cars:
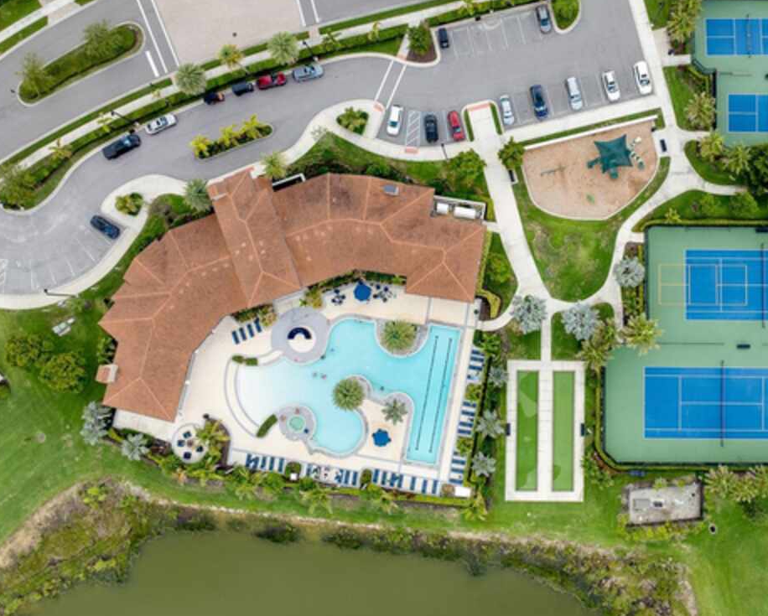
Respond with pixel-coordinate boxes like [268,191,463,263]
[437,26,448,47]
[499,94,514,125]
[256,72,285,89]
[144,114,176,134]
[567,78,583,108]
[229,79,254,95]
[447,110,463,140]
[424,112,438,142]
[201,89,226,105]
[634,60,652,92]
[536,3,552,32]
[291,63,324,80]
[531,85,548,116]
[386,105,401,134]
[88,215,118,238]
[604,70,620,101]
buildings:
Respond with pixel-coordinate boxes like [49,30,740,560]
[94,167,487,423]
[630,483,704,527]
